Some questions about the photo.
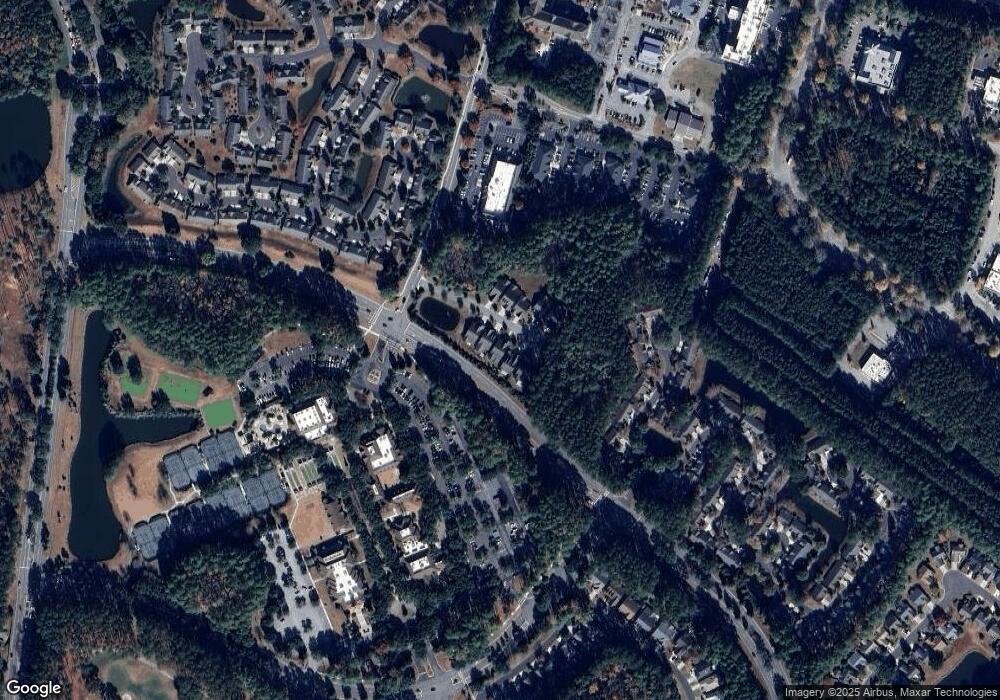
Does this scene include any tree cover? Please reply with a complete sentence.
Yes, some tree cover is visible.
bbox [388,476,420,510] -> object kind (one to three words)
building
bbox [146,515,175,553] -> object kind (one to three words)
tennis court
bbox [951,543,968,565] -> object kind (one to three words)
house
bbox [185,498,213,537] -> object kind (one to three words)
tennis court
